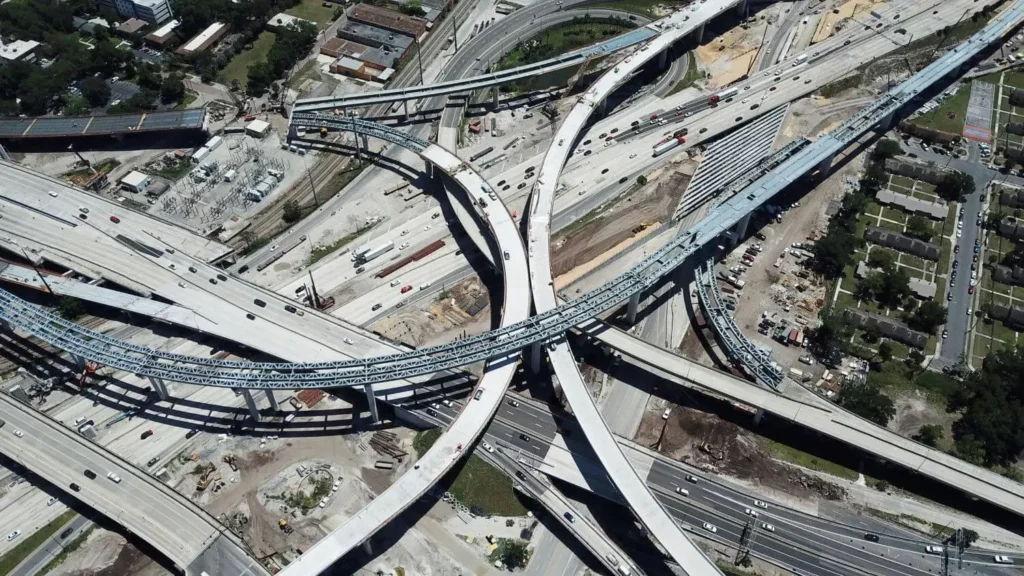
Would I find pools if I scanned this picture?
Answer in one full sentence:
No, the picture doesn't show any pool.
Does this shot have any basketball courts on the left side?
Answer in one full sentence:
No, looking on the left side, there is no basketball court.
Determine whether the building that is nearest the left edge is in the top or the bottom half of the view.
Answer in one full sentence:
The building that is nearest the left edge is in the top half of the image.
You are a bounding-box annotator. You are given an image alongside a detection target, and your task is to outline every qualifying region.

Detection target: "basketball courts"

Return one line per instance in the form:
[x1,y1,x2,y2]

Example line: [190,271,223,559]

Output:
[969,77,995,106]
[965,99,993,129]
[962,122,991,141]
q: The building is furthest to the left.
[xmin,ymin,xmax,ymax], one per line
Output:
[0,37,44,69]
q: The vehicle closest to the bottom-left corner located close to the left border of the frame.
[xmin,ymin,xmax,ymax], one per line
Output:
[4,527,23,541]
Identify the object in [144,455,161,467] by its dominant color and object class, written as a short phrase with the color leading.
gray vehicle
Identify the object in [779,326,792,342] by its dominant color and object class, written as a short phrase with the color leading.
gray vehicle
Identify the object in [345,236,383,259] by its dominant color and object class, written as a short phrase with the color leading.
white truck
